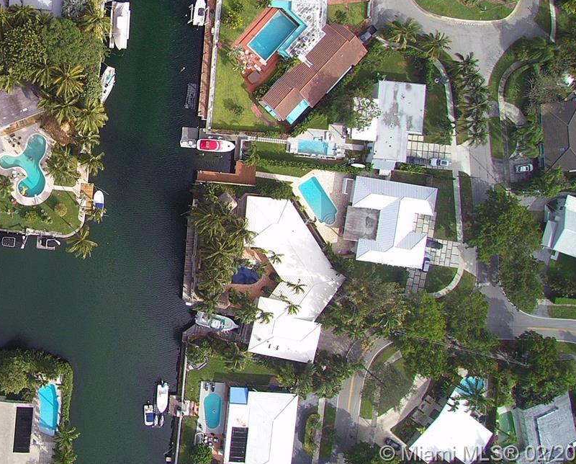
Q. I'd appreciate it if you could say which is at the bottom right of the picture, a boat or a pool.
pool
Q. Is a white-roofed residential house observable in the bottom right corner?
Yes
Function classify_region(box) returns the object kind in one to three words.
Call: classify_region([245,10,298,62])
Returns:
swimming pool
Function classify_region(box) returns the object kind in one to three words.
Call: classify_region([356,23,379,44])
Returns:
truck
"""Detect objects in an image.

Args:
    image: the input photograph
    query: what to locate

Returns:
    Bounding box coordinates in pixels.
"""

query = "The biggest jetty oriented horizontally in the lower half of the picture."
[180,322,252,345]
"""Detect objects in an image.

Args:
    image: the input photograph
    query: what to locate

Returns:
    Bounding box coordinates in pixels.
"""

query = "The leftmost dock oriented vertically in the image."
[80,182,93,216]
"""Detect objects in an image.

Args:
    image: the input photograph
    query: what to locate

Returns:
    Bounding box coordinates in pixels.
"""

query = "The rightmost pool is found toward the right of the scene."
[454,376,485,399]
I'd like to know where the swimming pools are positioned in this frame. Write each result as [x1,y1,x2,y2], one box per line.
[297,176,339,226]
[296,137,328,155]
[231,266,262,286]
[245,10,298,62]
[36,382,60,437]
[454,376,485,399]
[202,393,224,430]
[0,131,48,199]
